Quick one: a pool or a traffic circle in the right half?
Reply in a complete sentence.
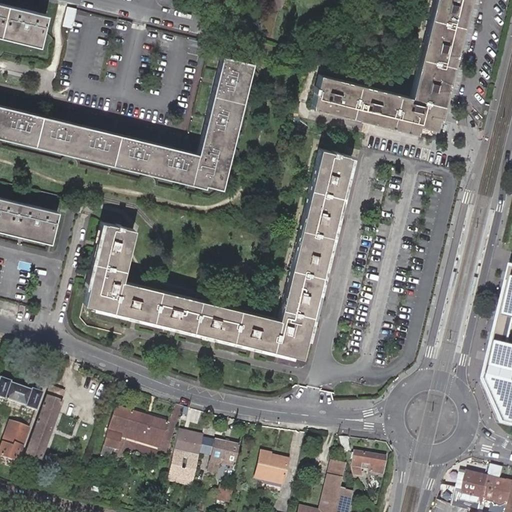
Visible in the right half is a traffic circle.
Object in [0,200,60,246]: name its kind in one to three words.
building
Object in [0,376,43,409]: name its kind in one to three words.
house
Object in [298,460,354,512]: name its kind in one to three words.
house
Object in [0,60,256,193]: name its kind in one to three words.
building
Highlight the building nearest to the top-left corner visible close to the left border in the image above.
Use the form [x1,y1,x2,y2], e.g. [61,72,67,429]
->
[0,6,50,51]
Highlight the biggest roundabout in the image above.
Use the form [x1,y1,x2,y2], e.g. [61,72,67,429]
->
[385,371,478,464]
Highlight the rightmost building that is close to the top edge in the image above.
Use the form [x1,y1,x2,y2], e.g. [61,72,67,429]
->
[305,0,472,138]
